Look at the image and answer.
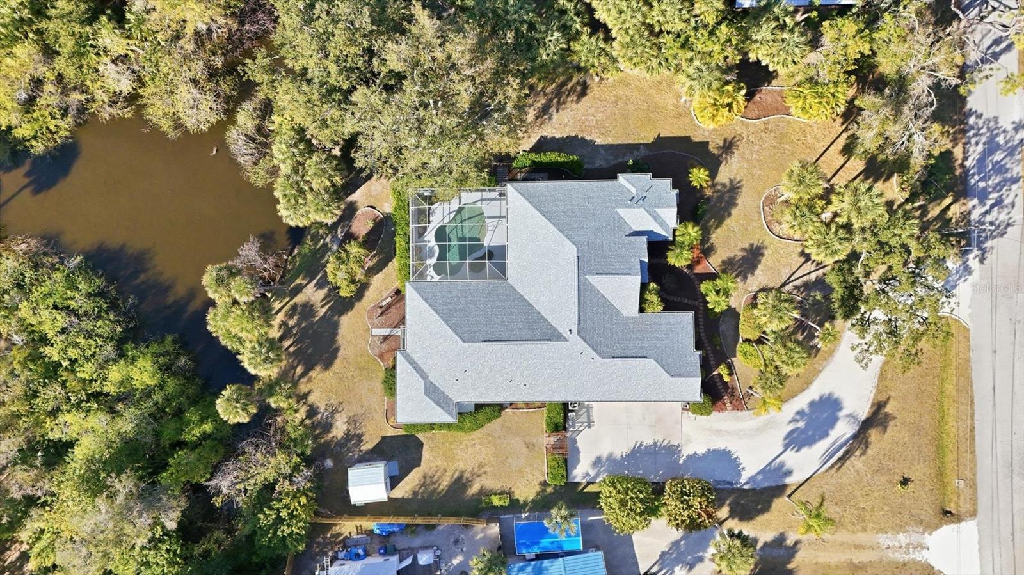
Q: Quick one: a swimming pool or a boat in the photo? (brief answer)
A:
swimming pool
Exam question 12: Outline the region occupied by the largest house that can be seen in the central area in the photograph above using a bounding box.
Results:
[396,173,704,424]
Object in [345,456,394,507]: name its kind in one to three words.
shed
